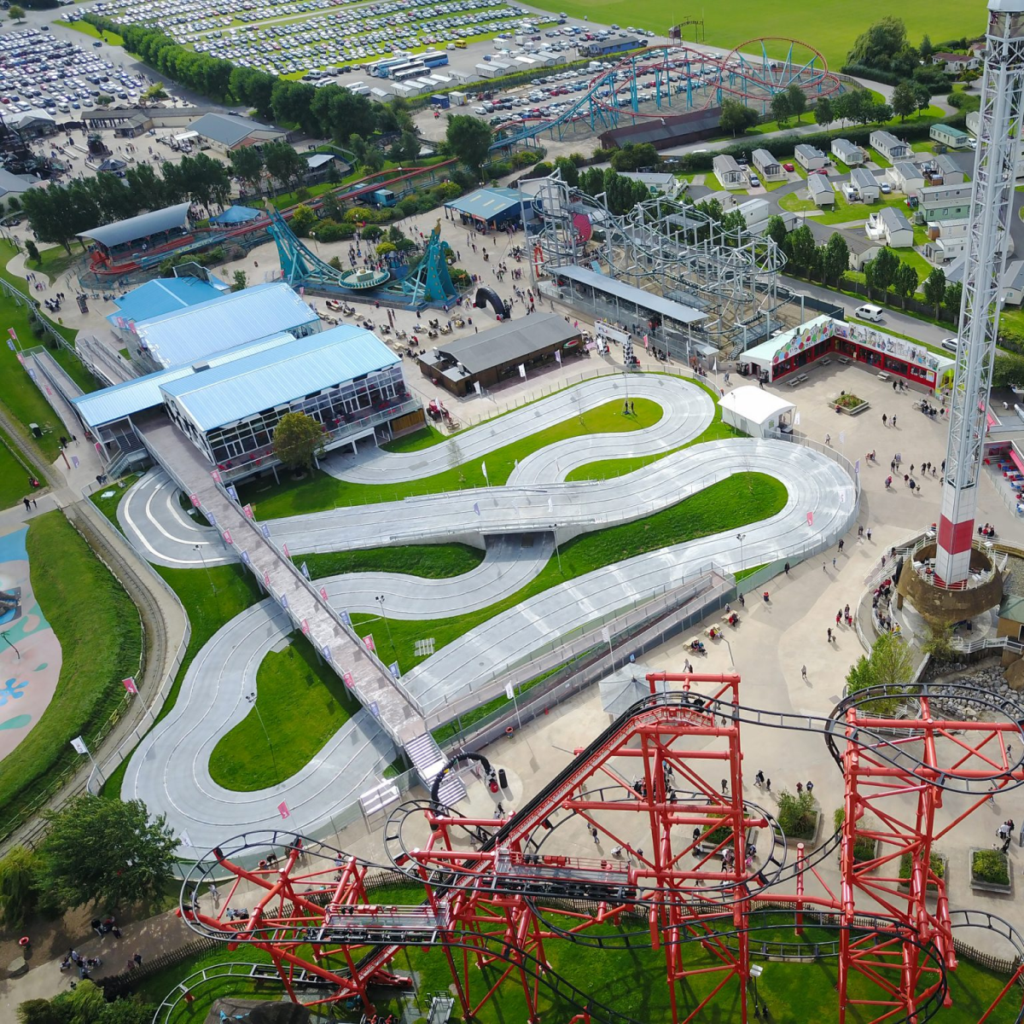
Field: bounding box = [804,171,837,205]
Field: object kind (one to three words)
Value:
camper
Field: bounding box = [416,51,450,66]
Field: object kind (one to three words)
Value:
vehicle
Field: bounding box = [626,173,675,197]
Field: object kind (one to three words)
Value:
house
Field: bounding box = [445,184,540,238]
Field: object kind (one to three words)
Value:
building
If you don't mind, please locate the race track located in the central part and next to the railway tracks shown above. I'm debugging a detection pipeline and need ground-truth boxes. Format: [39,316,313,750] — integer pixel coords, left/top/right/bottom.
[115,372,855,859]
